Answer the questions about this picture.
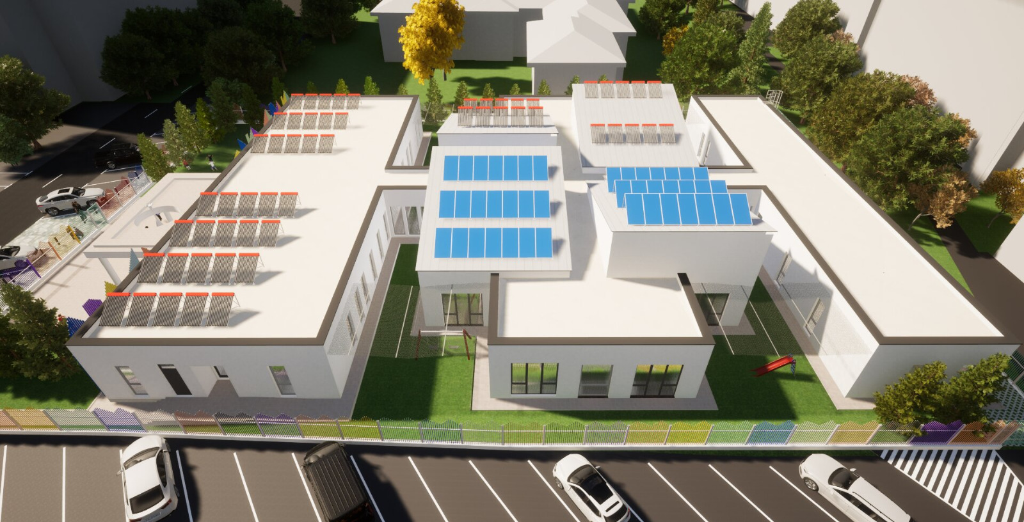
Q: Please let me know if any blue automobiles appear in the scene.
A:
No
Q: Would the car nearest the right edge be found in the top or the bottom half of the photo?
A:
bottom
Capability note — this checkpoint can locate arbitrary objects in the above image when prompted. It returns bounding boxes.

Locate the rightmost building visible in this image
[994,217,1024,281]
